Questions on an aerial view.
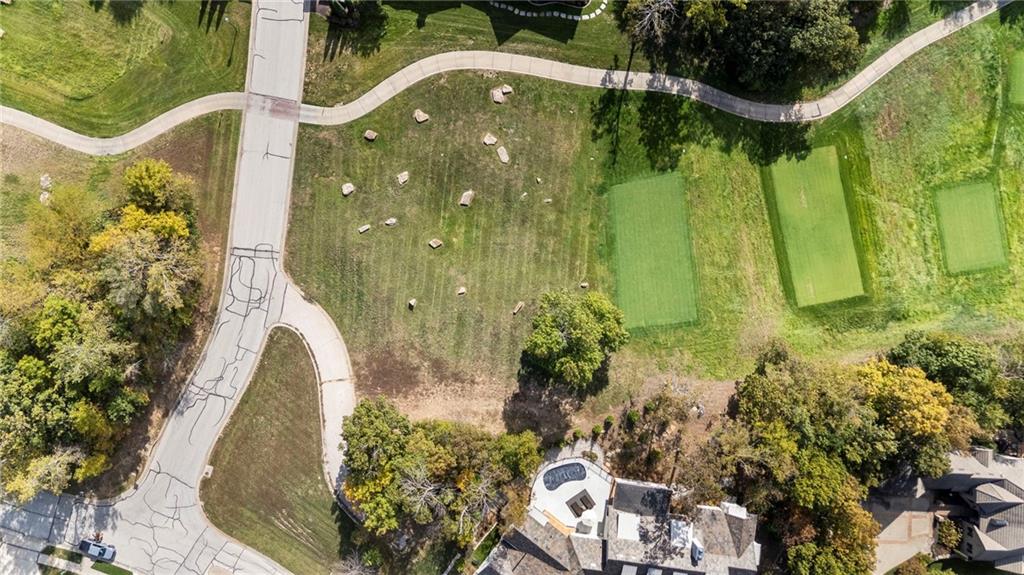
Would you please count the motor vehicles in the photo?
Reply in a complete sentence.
In total, there is 1 motor vehicle in the scene.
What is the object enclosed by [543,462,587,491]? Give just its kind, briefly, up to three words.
swimming pool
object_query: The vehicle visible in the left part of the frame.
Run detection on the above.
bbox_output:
[78,537,118,560]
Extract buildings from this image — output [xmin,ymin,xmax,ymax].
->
[915,449,1024,575]
[473,475,761,575]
